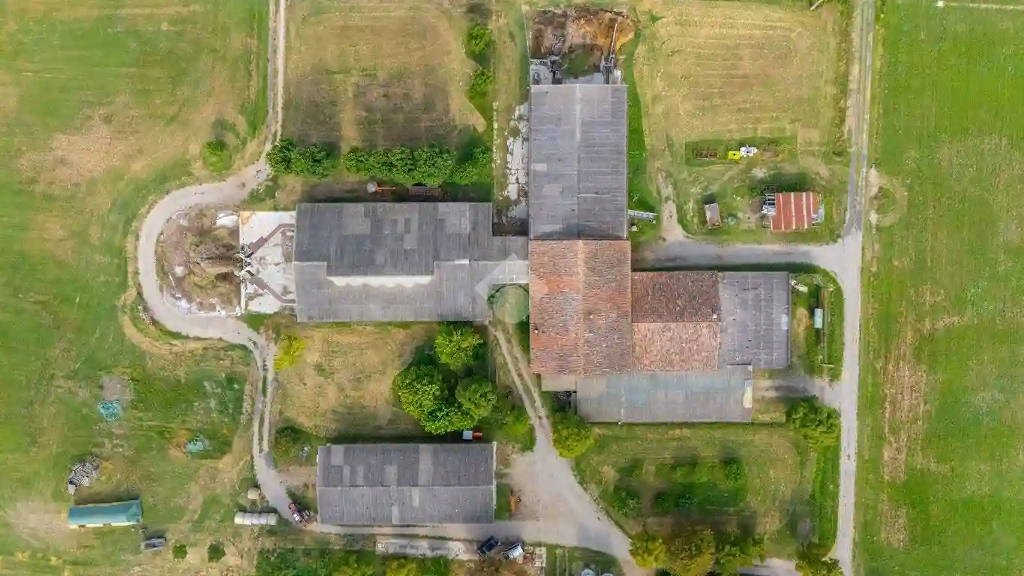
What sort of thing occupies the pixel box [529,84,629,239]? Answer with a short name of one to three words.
barn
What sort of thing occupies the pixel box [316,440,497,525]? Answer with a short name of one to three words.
barn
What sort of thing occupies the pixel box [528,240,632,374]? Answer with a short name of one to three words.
house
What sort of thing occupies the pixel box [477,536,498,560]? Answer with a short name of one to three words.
car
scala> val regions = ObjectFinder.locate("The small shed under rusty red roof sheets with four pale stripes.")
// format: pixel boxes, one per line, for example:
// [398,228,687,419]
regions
[760,186,823,232]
